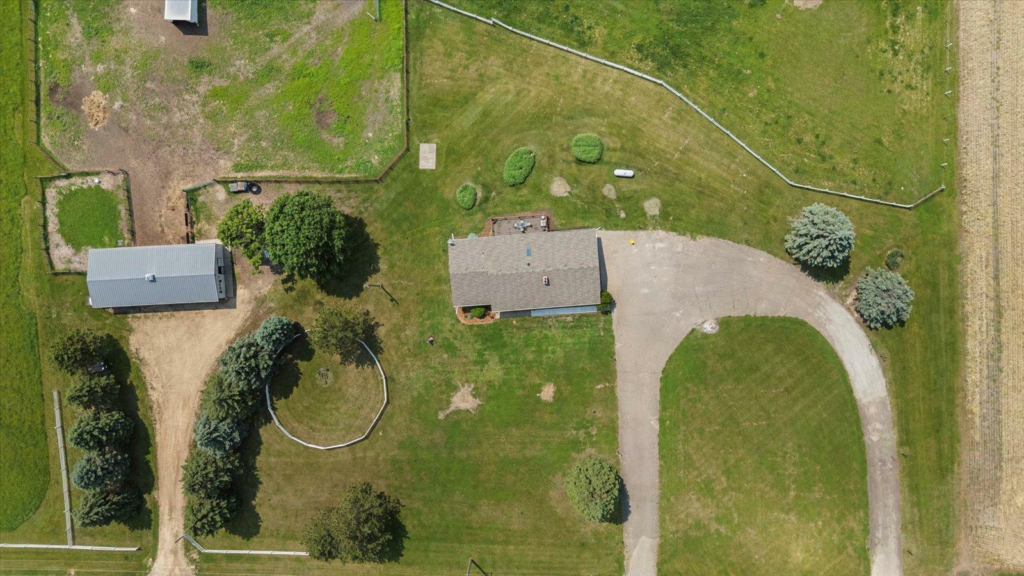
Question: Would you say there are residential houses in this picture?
Yes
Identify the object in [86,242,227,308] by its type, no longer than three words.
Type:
barn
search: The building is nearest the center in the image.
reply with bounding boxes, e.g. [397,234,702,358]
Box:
[447,227,602,314]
